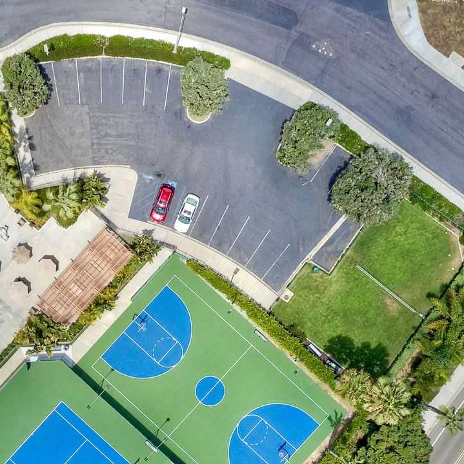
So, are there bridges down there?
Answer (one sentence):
No, the picture doesn't show any bridge.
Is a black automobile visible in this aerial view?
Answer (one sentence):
No, no black automobile is visible in the scene.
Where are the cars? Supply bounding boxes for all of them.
[150,182,175,223]
[175,193,200,234]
